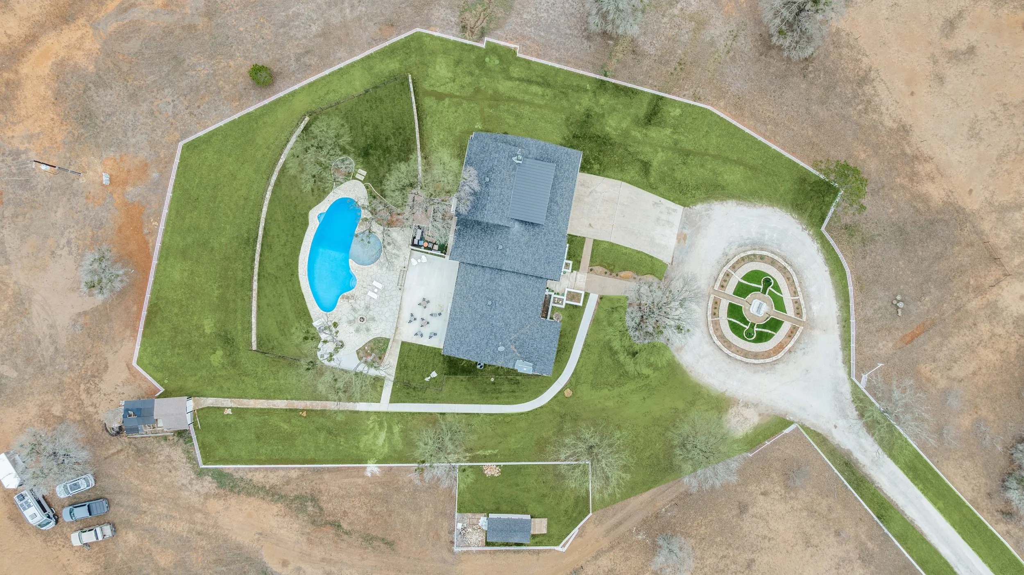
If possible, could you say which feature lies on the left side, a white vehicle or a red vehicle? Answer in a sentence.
Visible on the left side is a white vehicle.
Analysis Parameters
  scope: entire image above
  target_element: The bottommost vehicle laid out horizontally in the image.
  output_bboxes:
[71,521,121,550]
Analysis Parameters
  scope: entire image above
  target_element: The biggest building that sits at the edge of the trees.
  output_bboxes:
[441,131,583,376]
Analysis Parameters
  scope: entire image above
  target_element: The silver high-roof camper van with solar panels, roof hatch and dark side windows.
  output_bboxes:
[12,483,61,532]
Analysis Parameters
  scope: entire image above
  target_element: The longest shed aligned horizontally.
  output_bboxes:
[117,396,194,436]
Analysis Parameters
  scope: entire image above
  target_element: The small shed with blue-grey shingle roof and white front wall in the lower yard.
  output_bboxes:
[487,514,531,543]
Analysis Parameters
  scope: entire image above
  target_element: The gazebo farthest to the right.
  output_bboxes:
[750,299,771,317]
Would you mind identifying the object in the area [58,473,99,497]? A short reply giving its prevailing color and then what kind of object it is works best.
white car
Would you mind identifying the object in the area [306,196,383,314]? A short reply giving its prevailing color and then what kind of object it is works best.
blue swimming pool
